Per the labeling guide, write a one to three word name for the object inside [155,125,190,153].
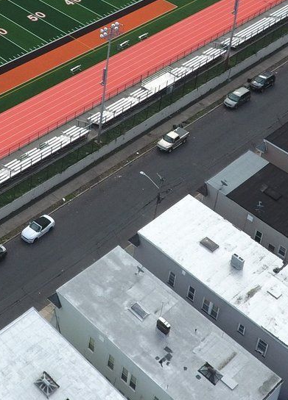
truck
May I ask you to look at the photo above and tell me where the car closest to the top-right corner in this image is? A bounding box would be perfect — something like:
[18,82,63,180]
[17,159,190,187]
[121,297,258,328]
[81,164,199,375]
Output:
[249,70,275,92]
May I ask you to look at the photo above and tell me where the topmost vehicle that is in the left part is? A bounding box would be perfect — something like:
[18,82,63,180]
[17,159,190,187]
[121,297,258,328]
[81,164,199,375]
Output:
[19,216,57,244]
